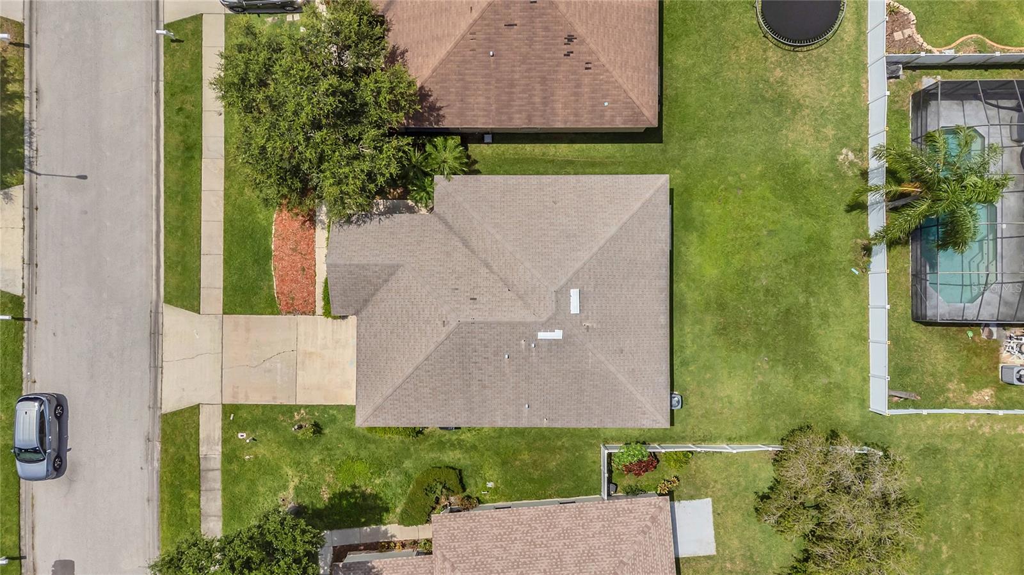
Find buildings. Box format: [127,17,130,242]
[331,488,676,575]
[325,174,670,428]
[322,0,658,133]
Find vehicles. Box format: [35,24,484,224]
[220,0,306,13]
[11,393,64,480]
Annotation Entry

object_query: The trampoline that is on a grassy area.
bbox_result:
[751,0,846,51]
